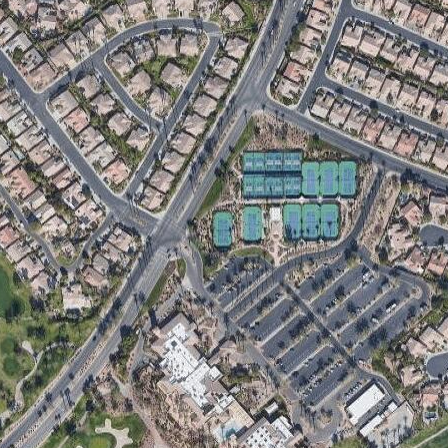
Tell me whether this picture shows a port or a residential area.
residential area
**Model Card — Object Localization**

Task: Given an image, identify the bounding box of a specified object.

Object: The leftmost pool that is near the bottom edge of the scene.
[224,422,240,440]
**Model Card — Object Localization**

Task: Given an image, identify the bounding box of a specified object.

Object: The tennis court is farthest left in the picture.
[215,212,232,248]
